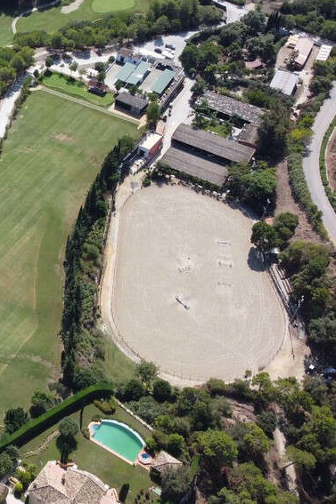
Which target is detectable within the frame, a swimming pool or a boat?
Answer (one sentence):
The image shows a swimming pool.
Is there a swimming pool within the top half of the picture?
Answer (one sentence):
No, I can find no swimming pool within the top half of the picture.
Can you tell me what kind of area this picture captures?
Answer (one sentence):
This looks like a sports ground.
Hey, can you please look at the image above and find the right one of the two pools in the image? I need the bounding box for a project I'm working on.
[137,450,152,463]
